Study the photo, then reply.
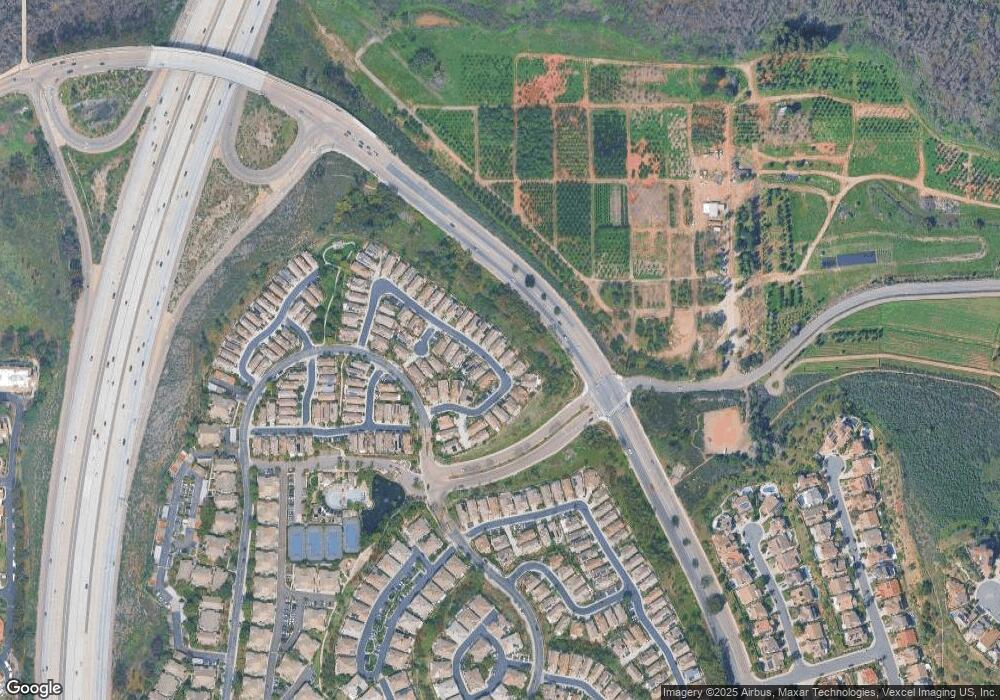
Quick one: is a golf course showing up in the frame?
No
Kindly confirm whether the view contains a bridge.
Yes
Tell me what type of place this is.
residential area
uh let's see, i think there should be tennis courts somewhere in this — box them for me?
[343,518,359,554]
[325,525,342,560]
[306,525,323,560]
[288,525,305,560]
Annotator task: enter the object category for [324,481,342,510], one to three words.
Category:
swimming pool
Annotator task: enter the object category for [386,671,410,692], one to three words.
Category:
house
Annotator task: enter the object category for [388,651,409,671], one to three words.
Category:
house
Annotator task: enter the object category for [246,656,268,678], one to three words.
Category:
building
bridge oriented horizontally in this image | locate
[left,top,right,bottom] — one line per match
[149,46,266,92]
